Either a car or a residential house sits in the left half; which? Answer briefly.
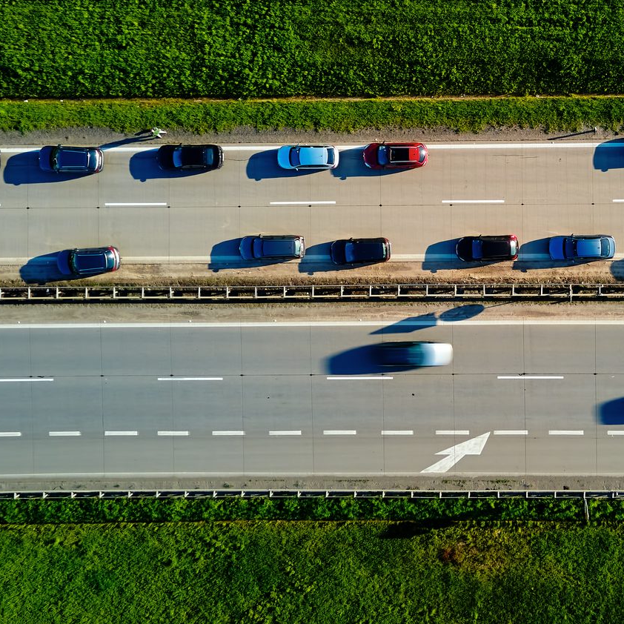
car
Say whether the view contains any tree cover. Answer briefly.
No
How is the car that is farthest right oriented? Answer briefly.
from side to side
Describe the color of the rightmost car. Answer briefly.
blue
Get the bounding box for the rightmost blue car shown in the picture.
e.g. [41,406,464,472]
[549,233,616,263]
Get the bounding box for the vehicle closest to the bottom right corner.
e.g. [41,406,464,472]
[383,339,453,370]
